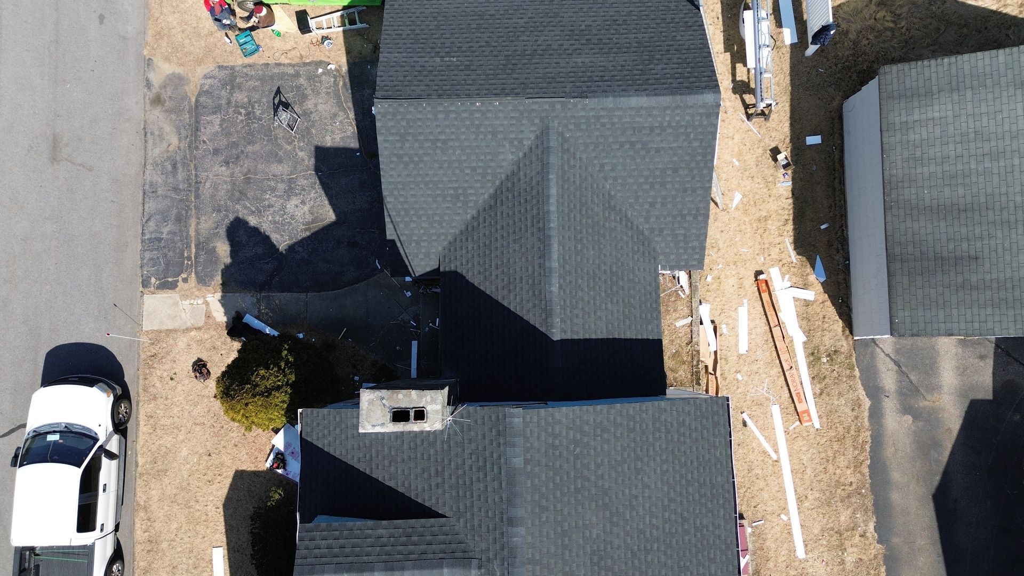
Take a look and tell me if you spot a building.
Yes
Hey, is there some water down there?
No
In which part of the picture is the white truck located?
bottom left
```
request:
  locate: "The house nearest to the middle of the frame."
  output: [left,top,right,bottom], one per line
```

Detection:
[289,0,742,576]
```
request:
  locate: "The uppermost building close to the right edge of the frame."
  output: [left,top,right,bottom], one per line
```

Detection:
[841,39,1024,343]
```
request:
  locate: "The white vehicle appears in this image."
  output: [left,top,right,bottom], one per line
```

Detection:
[4,372,135,576]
